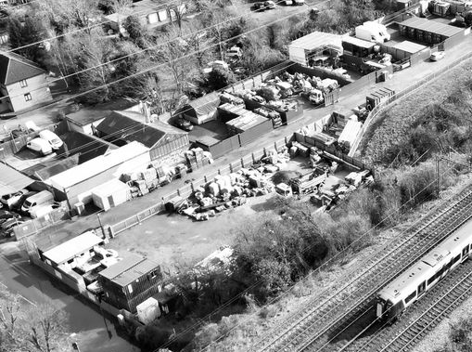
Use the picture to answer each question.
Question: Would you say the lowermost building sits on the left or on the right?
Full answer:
The lowermost building appears in the left half of the scene.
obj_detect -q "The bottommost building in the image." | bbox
[82,241,160,305]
